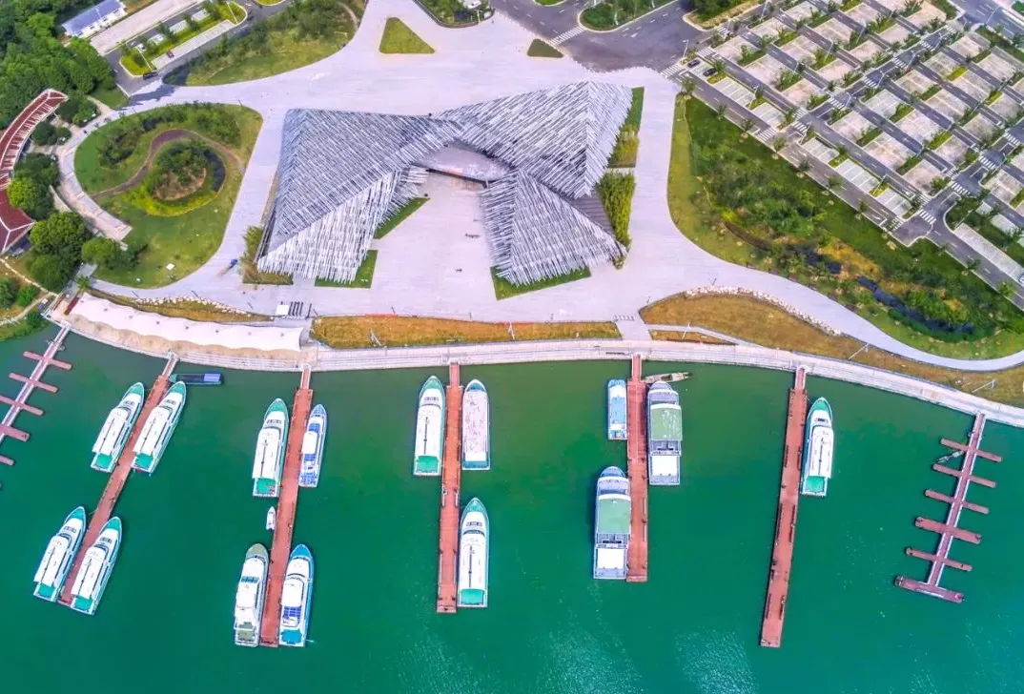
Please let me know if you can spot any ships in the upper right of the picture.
No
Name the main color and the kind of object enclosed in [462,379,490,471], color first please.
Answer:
white boat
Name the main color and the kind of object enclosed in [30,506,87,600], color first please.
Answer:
white boat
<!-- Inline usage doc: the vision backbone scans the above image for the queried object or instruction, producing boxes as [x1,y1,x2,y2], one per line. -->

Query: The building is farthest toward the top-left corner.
[60,0,128,39]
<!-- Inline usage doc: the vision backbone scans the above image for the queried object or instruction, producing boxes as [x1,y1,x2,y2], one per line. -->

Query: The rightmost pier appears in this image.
[895,409,1002,602]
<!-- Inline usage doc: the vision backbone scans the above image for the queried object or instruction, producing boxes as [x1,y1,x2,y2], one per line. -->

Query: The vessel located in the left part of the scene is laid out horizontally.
[171,372,223,384]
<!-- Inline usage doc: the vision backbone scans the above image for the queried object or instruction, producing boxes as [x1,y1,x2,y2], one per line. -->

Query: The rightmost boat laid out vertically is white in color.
[799,396,836,500]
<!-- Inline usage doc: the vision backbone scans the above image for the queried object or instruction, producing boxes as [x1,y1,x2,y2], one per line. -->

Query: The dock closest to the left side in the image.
[0,323,74,465]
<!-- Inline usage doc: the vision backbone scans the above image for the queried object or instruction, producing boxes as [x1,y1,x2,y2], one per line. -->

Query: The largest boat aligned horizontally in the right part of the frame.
[644,371,691,383]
